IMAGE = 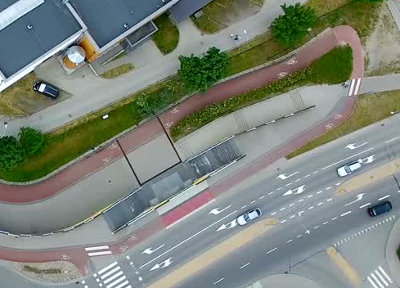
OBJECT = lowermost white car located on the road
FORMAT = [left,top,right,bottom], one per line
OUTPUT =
[236,207,263,225]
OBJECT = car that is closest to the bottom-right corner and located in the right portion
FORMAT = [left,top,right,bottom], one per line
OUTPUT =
[365,201,394,217]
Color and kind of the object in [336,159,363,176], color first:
white car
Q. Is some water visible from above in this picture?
No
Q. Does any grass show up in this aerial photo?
Yes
